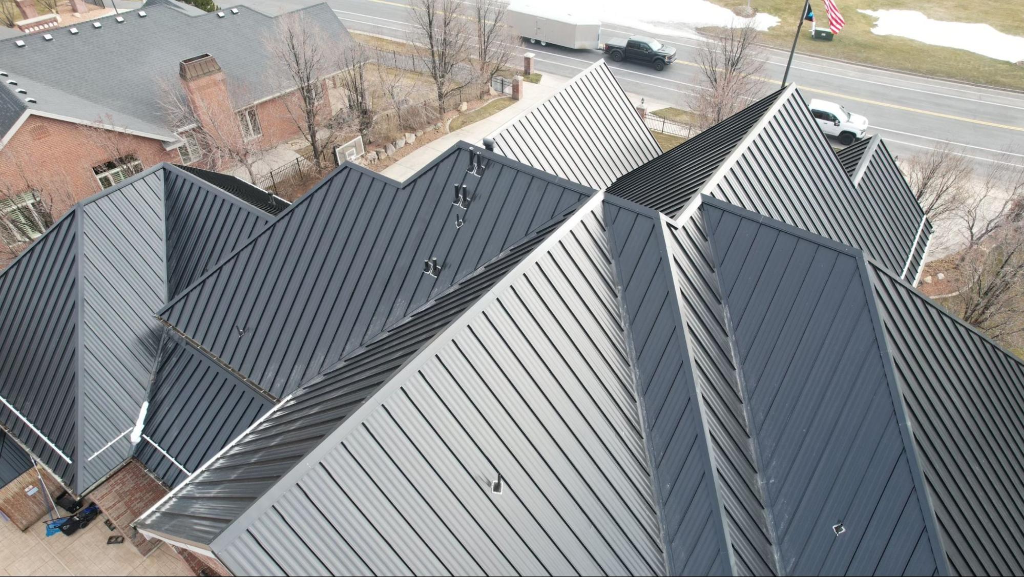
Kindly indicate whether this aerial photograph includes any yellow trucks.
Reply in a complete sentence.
No, I can see no yellow truck in this picture.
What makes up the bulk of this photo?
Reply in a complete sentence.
The scene is dominated by buildings.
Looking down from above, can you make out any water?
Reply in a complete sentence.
No, there is no water in the image.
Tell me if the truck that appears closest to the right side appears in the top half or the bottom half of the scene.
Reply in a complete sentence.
The truck that appears closest to the right side is in the top half of the image.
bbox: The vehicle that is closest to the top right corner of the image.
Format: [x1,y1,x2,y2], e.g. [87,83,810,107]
[809,98,872,146]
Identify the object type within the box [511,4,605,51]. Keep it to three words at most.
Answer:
trailer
